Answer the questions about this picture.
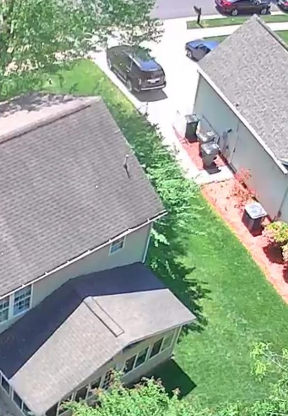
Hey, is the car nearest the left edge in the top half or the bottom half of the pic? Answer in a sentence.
It is in the top half that the car nearest the left edge appears.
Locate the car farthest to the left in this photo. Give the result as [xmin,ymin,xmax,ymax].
[109,43,165,86]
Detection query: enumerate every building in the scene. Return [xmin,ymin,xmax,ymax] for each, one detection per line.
[193,16,288,220]
[0,91,194,416]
